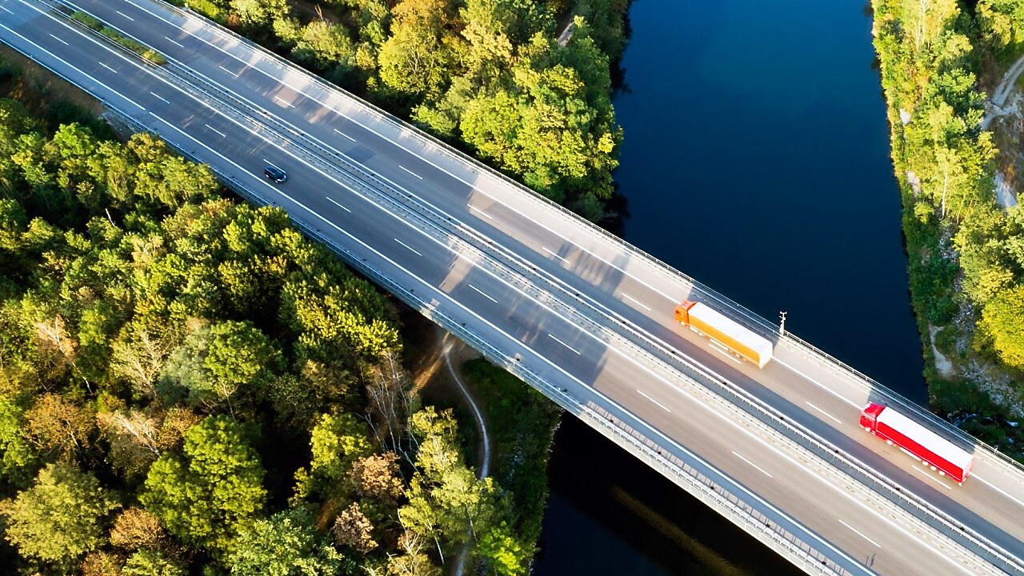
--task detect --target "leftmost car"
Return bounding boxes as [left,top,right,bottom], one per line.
[264,165,287,183]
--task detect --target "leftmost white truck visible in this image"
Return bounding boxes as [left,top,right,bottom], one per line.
[675,300,771,367]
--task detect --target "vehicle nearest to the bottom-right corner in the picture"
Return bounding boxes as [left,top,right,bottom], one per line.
[859,402,973,483]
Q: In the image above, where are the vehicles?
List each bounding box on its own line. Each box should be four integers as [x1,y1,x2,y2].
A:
[264,165,287,183]
[859,402,973,483]
[675,300,771,367]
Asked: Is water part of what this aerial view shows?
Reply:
Yes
